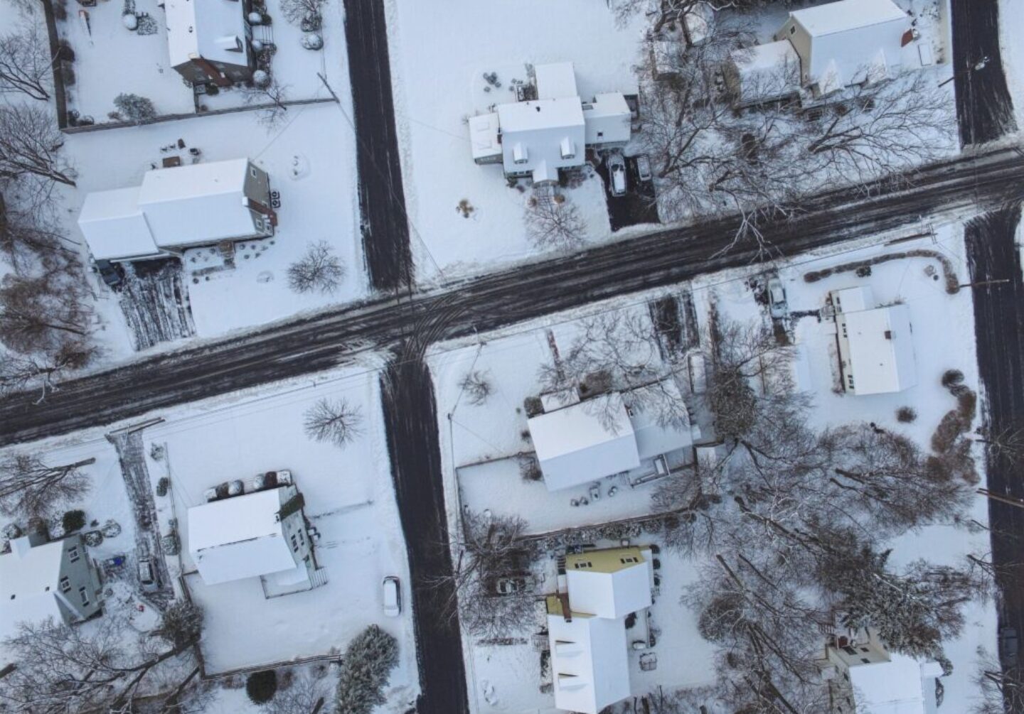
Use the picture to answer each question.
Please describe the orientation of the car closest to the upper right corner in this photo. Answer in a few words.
vertically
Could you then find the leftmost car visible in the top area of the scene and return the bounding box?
[98,259,124,291]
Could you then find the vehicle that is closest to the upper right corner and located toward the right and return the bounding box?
[767,276,790,318]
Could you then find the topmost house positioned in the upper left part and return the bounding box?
[167,0,282,95]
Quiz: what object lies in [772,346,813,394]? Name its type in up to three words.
building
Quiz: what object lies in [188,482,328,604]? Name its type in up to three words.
house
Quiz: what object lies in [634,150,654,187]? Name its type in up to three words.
car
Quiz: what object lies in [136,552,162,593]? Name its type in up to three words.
car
